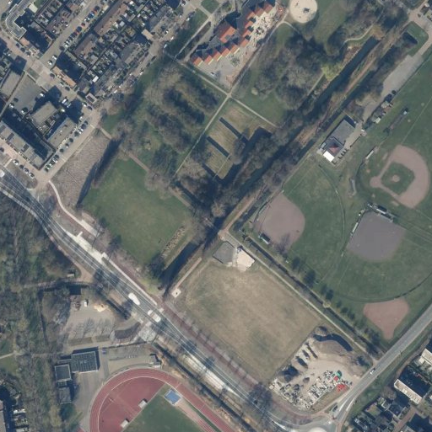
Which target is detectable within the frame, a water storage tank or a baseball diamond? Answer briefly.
baseball diamond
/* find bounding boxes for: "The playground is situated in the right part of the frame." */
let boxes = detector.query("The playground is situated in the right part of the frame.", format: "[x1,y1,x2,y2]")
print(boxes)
[290,0,317,22]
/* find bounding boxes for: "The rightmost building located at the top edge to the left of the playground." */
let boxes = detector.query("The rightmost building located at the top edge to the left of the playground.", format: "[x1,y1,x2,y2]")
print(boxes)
[191,0,275,66]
